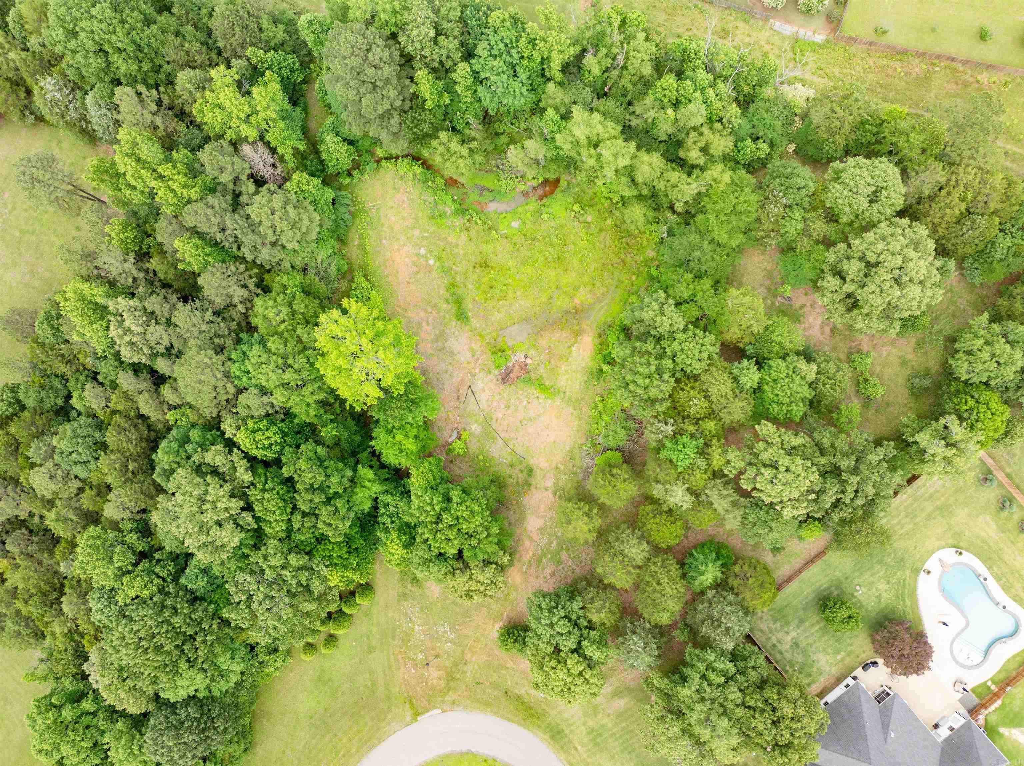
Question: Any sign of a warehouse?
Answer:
No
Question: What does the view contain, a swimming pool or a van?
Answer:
swimming pool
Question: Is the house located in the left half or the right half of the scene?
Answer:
right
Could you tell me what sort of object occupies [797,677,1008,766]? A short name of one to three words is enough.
house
